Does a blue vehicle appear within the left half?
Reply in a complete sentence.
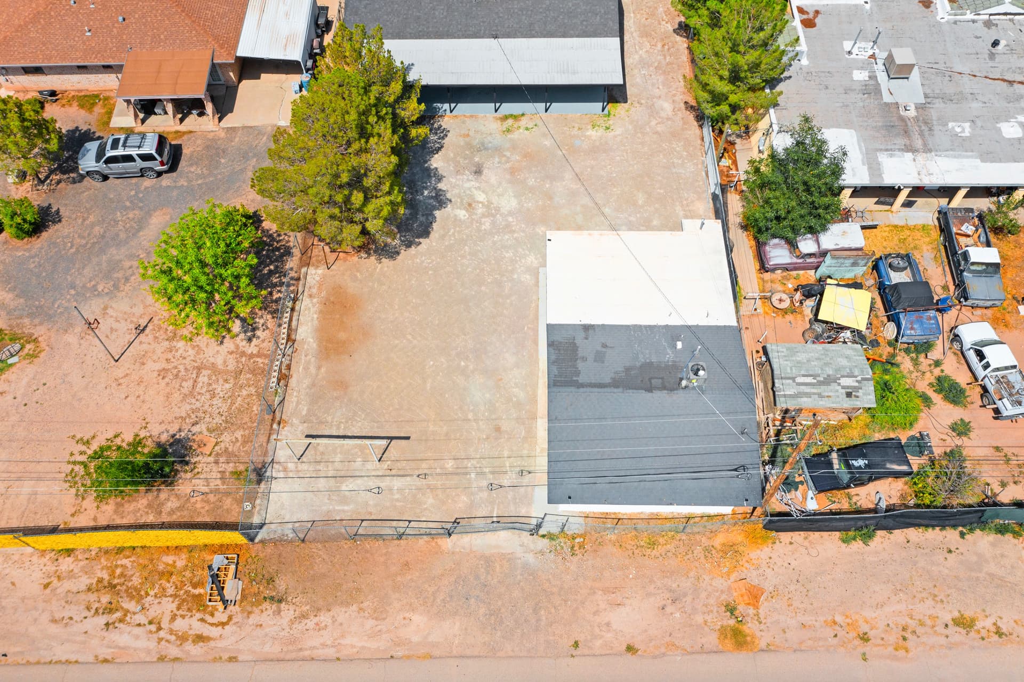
No, no blue vehicle appears within the left half.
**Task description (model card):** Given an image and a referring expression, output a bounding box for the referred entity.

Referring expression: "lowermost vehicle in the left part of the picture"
[74,123,175,175]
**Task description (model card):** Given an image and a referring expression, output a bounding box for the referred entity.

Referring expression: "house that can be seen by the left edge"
[0,0,252,126]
